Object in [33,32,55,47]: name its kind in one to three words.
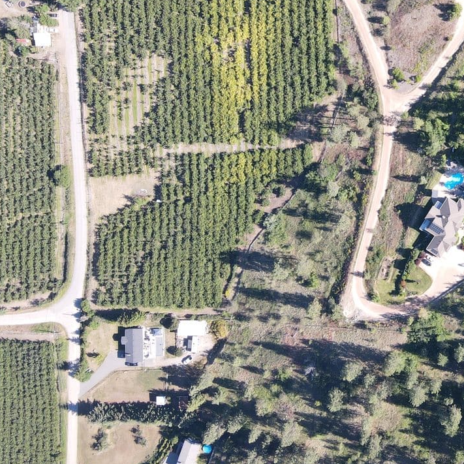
shed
